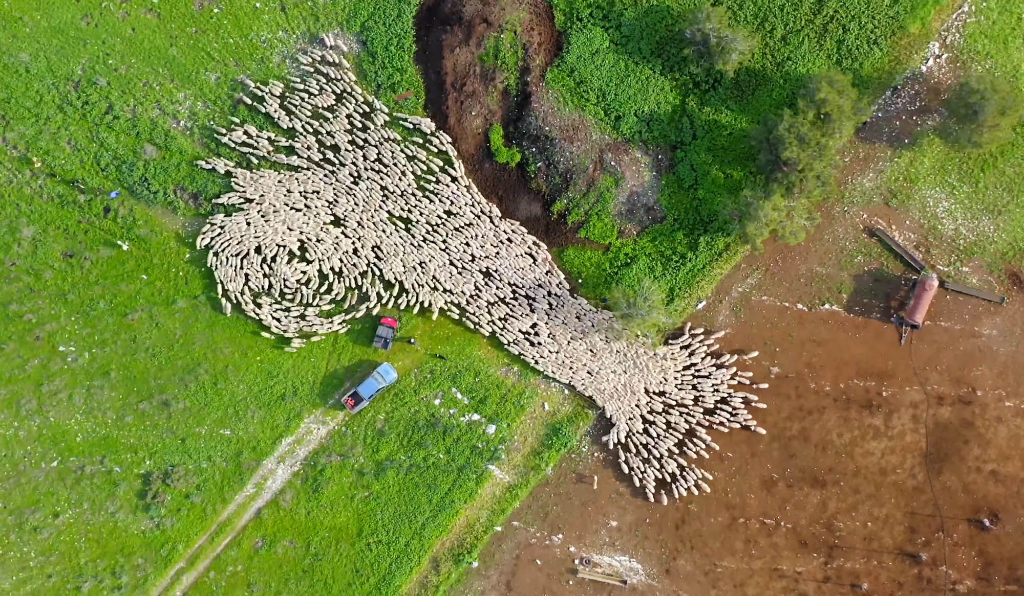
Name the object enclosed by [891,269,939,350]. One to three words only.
trailer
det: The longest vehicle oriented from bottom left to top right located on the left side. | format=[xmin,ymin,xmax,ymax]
[340,362,401,417]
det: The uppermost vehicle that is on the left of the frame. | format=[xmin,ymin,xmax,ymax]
[375,317,400,351]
